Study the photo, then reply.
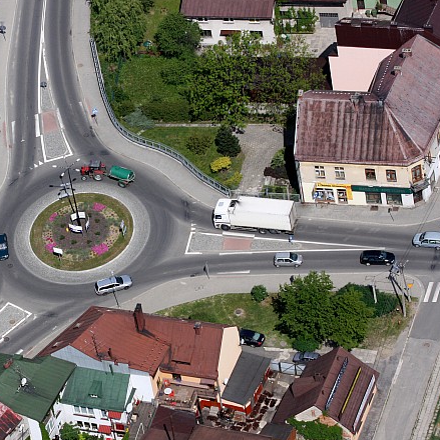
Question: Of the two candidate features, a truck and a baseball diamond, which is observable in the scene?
truck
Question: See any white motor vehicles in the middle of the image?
Yes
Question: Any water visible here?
No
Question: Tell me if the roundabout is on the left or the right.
left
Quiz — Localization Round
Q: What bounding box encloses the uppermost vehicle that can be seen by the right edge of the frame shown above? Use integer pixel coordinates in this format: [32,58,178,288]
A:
[410,231,440,251]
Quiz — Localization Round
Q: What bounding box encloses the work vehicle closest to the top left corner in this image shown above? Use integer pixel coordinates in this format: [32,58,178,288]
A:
[78,160,109,184]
